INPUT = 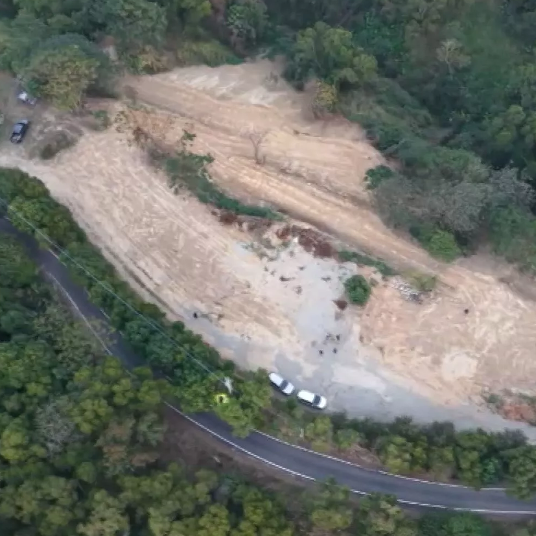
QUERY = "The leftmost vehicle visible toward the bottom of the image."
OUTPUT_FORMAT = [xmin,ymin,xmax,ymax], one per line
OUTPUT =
[266,372,296,399]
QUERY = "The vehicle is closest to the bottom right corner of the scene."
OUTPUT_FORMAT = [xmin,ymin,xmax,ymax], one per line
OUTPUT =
[295,389,328,411]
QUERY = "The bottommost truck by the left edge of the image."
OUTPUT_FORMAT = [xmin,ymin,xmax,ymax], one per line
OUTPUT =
[7,121,30,145]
